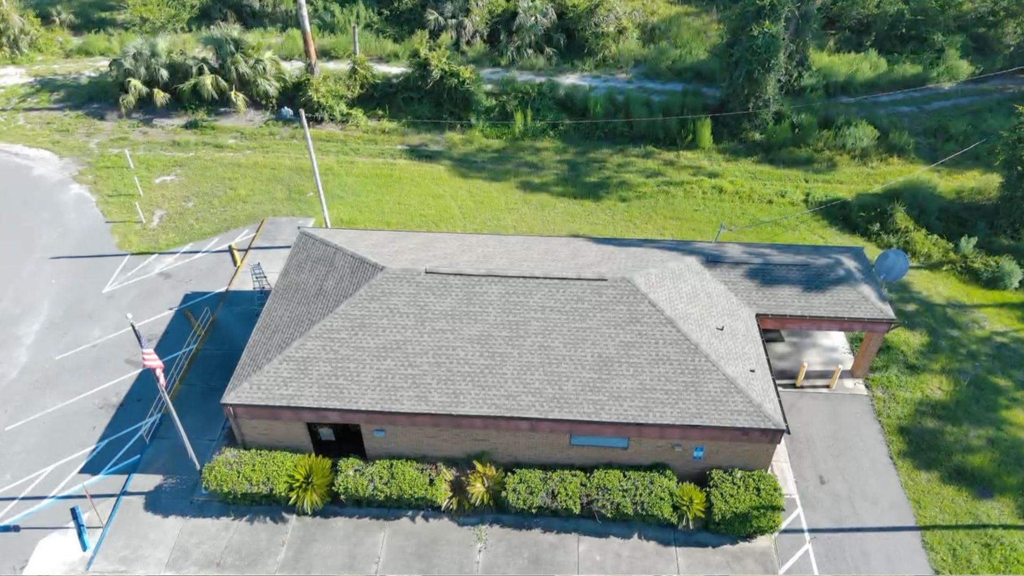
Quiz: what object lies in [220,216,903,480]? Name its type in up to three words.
building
